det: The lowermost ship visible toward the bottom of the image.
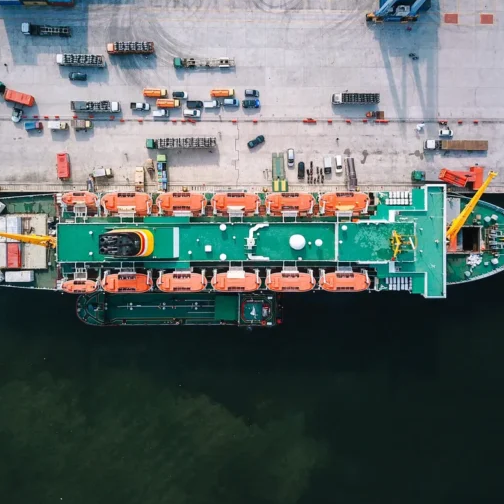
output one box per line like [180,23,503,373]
[76,291,282,328]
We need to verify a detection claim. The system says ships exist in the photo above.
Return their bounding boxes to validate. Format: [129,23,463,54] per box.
[0,172,504,298]
[76,291,282,328]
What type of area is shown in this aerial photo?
port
